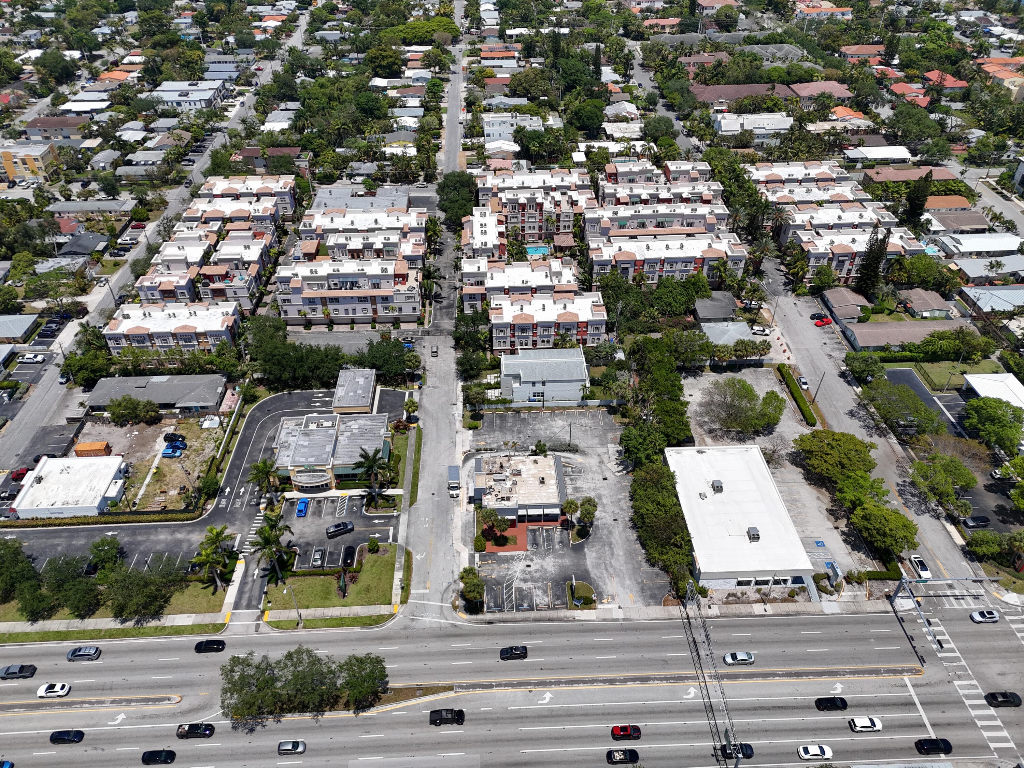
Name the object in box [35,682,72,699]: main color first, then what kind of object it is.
white car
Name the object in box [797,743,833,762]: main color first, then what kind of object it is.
white car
